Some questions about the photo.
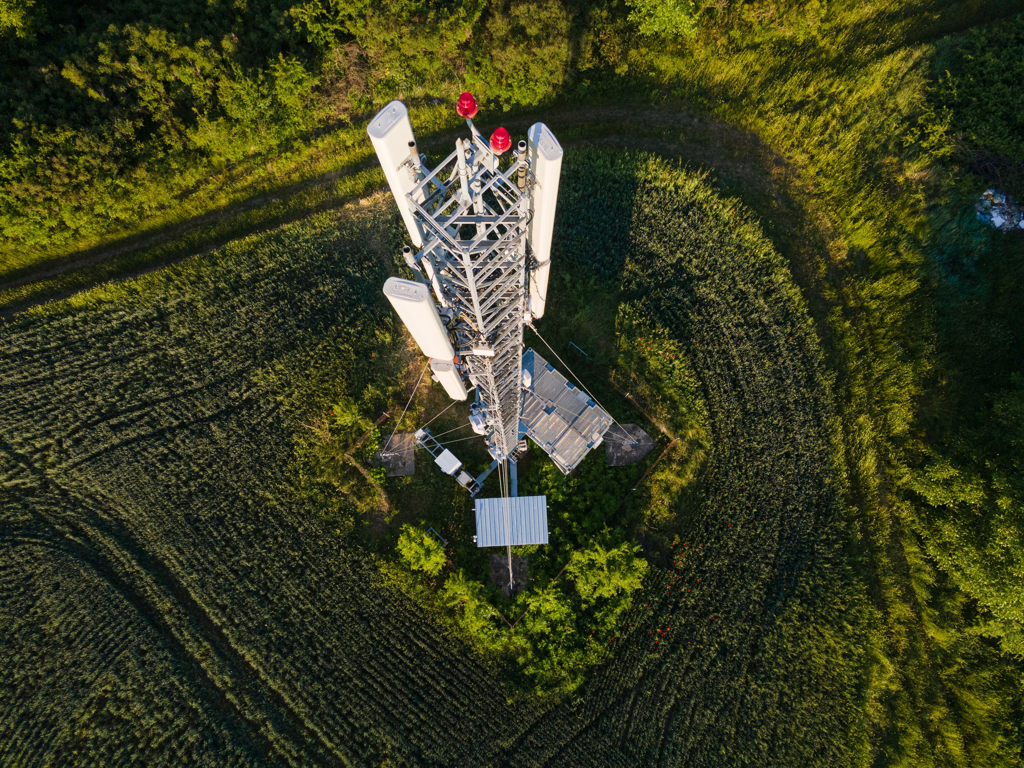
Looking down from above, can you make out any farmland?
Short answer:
Yes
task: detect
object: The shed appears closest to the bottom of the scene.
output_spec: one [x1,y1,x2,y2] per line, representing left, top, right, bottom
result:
[471,496,551,547]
